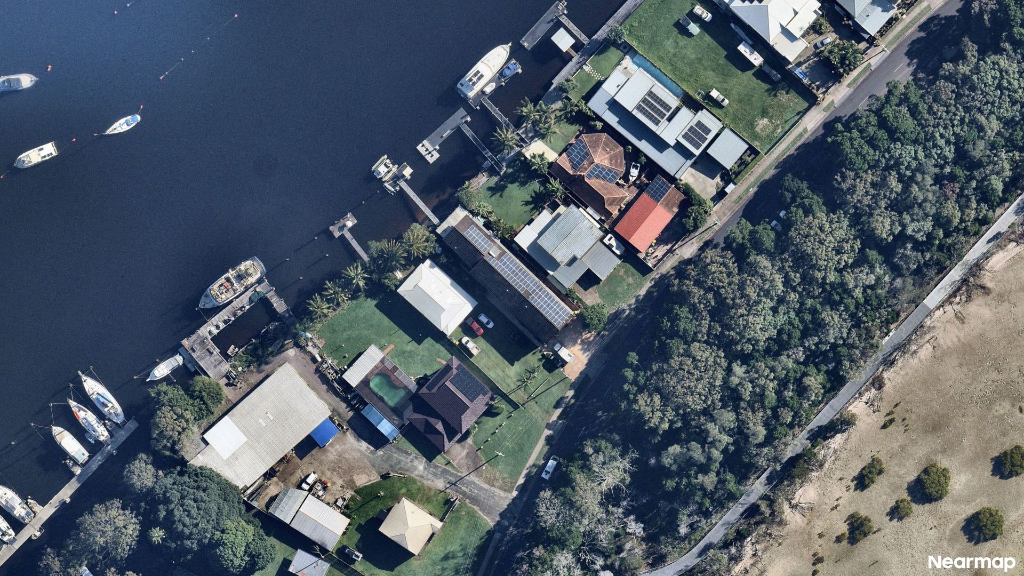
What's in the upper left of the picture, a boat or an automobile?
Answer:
boat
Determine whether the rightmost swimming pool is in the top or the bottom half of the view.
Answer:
top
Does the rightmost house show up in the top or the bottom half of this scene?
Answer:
top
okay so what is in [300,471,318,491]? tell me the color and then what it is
white vehicle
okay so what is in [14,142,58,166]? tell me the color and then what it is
white boat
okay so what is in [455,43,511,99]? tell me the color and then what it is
white boat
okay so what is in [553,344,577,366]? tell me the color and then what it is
white camper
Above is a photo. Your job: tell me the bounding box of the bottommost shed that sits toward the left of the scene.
[289,548,331,576]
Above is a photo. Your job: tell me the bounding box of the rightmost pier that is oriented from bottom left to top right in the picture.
[520,1,567,50]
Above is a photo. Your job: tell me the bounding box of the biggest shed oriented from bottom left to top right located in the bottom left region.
[189,362,331,489]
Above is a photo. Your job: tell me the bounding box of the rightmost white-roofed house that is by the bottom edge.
[378,497,443,556]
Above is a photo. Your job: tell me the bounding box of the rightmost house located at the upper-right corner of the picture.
[836,0,897,38]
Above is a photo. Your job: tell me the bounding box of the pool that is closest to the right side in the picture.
[630,54,684,98]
